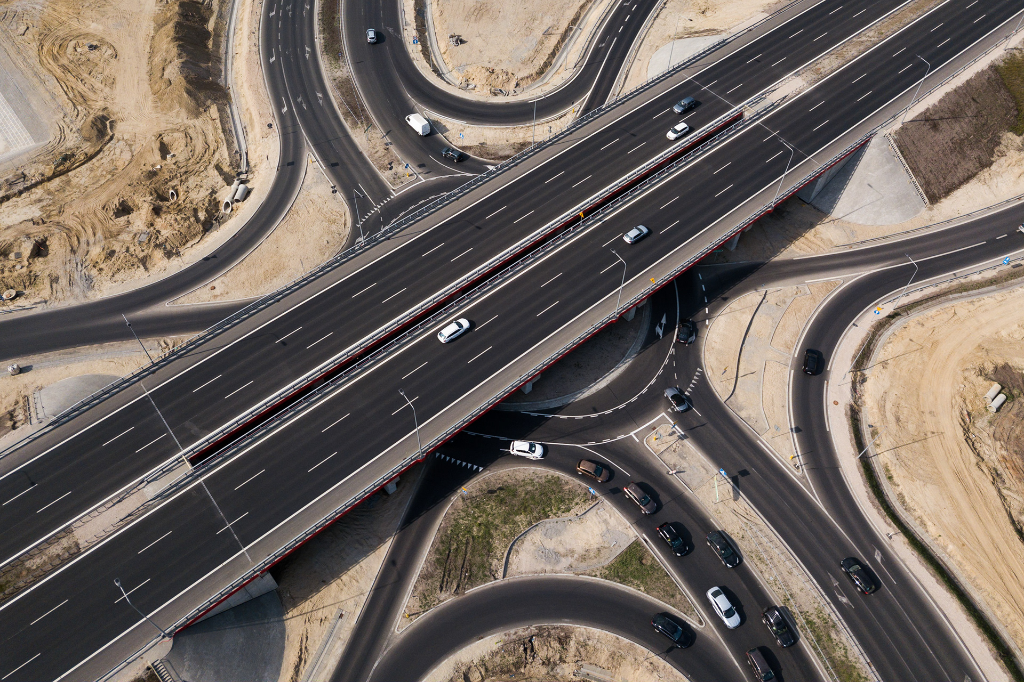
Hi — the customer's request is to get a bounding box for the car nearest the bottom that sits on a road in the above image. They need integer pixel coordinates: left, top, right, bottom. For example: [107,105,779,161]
[743,646,778,682]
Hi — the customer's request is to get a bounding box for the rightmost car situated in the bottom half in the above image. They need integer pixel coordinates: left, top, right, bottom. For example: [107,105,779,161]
[838,558,877,597]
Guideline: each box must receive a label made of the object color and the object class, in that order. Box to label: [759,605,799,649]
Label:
black car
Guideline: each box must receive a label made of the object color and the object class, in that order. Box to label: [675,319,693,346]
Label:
black car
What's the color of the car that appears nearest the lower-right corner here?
black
